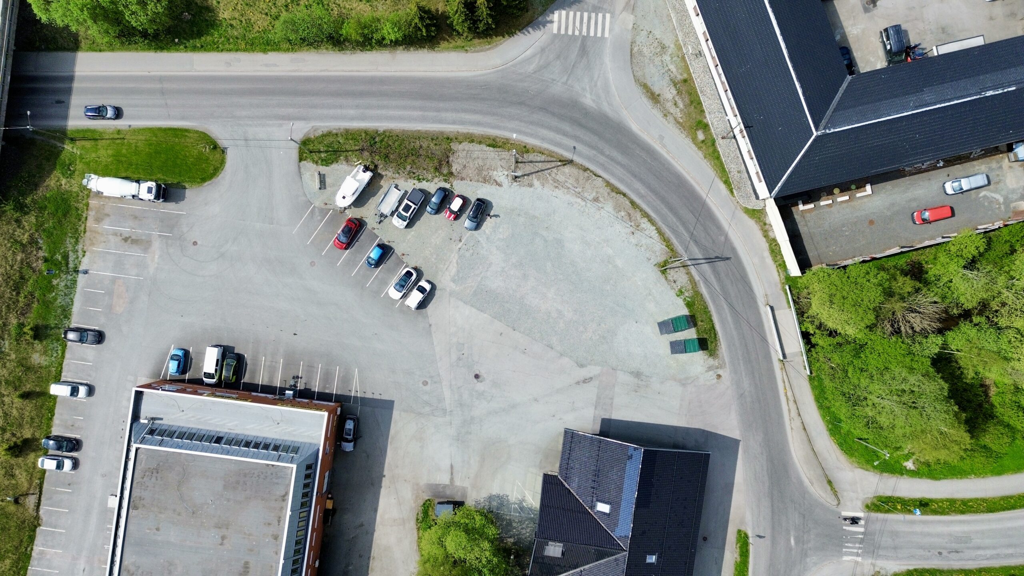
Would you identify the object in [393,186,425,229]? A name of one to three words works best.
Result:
truck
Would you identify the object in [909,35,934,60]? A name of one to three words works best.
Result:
work vehicle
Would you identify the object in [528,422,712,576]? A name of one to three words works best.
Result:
house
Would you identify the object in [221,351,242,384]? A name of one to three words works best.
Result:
car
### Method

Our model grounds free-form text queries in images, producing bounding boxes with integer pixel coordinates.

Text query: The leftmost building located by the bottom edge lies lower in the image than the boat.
[106,380,358,576]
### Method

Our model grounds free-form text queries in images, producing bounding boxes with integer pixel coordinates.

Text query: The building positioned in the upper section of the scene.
[684,0,1024,201]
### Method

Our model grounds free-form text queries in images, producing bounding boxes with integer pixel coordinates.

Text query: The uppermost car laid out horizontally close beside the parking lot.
[83,103,120,121]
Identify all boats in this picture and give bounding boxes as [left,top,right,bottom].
[333,158,372,208]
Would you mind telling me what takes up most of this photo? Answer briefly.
paved ground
